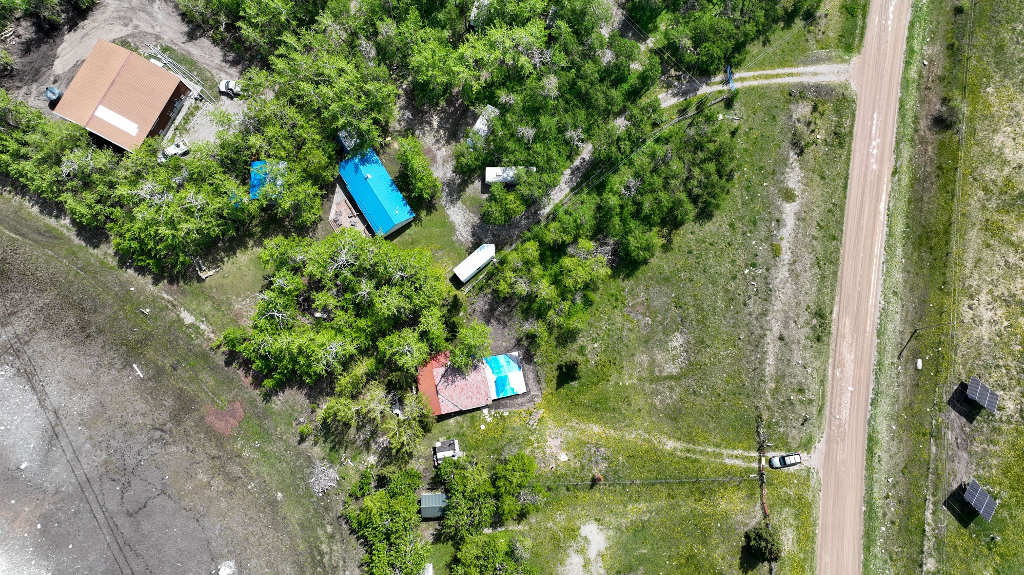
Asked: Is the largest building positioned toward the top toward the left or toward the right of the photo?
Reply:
left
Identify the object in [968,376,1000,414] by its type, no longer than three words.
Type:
solar array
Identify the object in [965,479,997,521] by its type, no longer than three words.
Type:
solar array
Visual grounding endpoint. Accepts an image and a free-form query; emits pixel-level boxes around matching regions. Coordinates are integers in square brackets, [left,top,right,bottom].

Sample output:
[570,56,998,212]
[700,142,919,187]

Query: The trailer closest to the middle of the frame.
[453,248,496,285]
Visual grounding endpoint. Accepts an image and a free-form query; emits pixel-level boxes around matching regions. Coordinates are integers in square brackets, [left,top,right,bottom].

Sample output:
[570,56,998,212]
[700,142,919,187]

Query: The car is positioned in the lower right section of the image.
[769,452,805,471]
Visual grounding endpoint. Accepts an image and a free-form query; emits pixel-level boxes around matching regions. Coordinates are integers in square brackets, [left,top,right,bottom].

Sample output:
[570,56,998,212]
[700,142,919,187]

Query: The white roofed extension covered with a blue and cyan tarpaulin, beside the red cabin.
[484,352,526,400]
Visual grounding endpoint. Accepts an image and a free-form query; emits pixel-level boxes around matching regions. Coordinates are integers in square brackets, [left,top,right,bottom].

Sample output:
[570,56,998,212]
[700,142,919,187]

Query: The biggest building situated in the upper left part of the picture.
[53,39,189,158]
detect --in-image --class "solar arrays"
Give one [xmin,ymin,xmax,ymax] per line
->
[965,479,997,521]
[968,376,1000,414]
